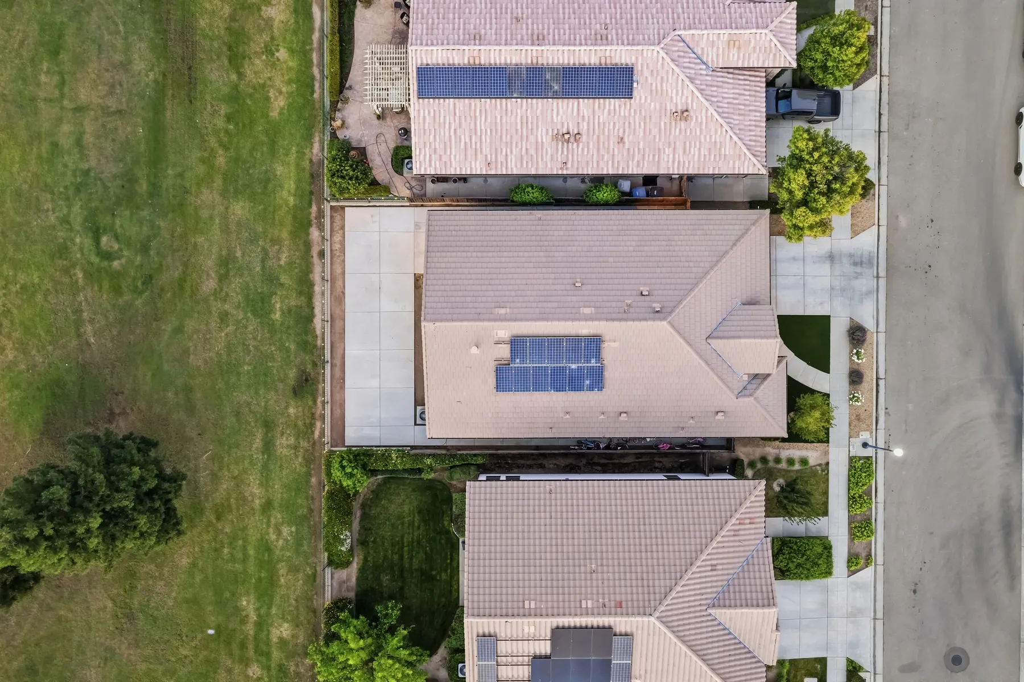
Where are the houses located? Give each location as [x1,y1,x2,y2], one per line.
[421,208,788,439]
[407,0,799,178]
[462,474,779,682]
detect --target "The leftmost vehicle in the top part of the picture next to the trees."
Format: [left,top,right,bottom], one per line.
[767,84,841,125]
